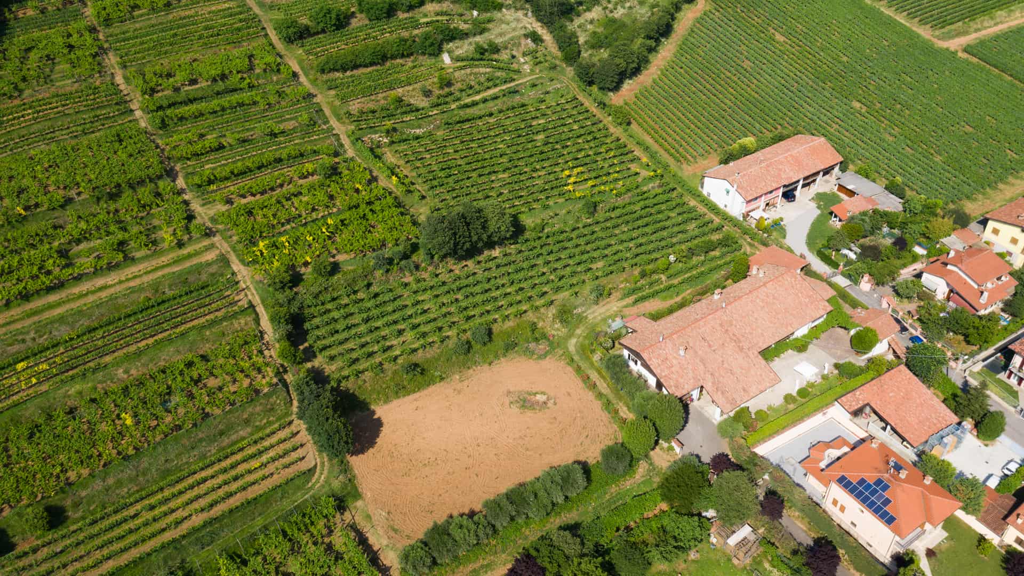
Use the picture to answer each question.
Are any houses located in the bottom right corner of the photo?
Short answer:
Yes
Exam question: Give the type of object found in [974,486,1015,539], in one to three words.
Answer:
shed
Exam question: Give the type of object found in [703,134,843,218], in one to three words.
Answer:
house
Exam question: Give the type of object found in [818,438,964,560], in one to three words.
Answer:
house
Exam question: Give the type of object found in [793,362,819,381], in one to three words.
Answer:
umbrella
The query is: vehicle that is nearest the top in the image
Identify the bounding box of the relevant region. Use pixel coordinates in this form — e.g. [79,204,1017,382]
[781,190,801,202]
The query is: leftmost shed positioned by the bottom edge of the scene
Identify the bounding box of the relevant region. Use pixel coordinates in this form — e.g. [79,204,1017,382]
[721,522,762,574]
